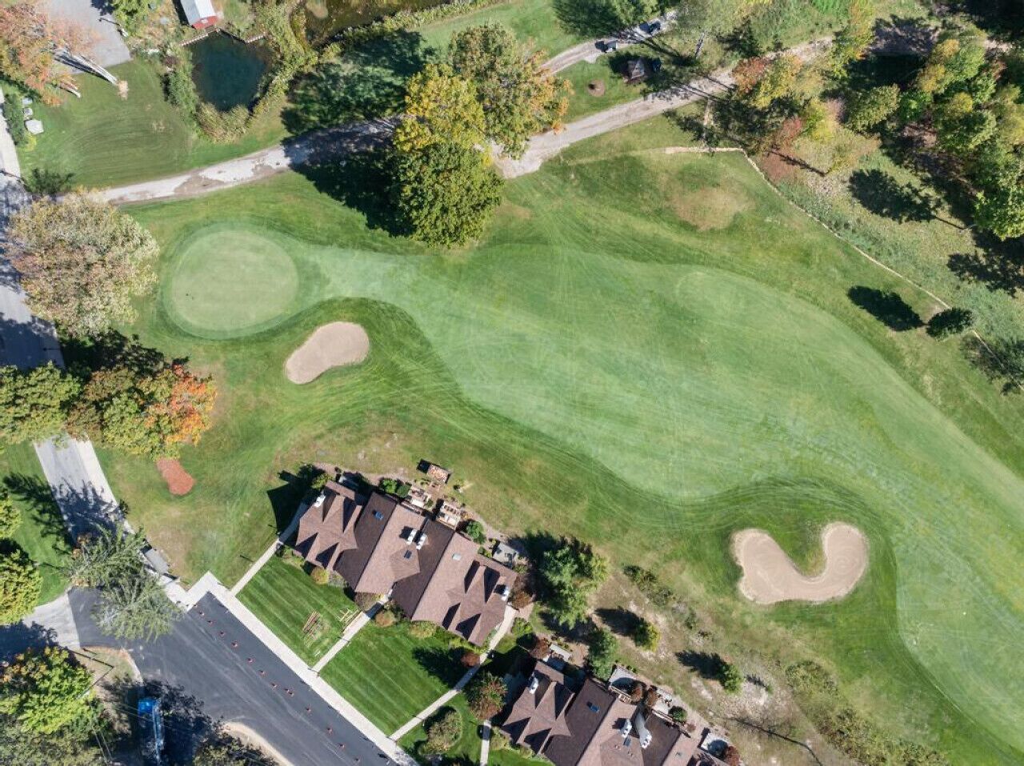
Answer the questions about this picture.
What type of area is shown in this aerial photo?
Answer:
golf course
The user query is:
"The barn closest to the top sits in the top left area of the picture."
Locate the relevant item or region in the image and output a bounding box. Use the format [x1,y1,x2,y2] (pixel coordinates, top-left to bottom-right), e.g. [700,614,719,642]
[179,0,218,29]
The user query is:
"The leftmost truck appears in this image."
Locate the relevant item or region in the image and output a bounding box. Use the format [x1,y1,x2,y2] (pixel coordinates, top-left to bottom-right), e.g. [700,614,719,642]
[136,693,165,766]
